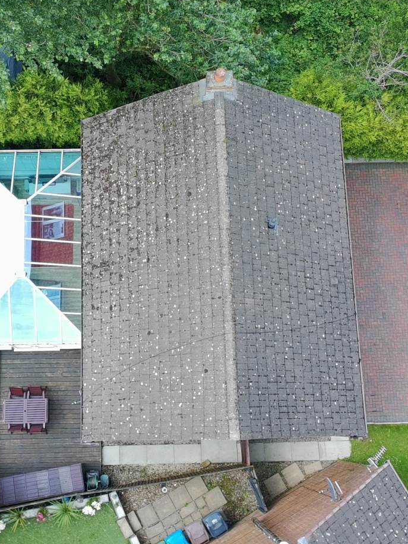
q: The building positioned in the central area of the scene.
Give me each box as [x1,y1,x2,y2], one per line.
[77,77,371,444]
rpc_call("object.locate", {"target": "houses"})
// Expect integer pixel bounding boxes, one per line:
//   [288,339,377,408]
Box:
[77,77,371,444]
[203,453,408,544]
